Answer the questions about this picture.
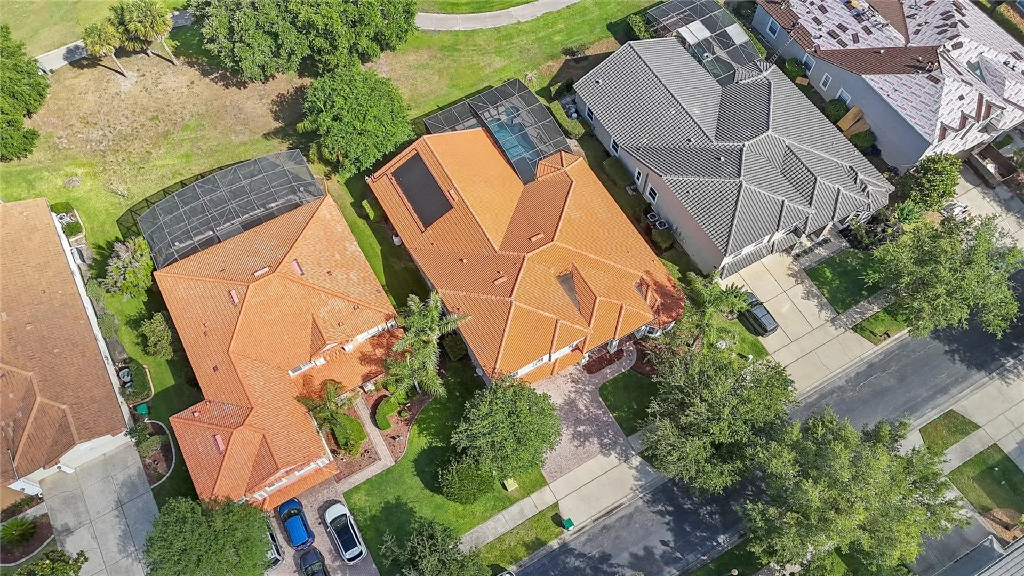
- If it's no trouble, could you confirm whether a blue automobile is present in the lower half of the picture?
Yes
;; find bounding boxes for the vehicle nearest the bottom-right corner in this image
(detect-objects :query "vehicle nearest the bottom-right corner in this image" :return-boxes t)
[734,292,780,340]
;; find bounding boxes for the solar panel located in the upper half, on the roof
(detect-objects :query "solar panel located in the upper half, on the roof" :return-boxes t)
[391,153,453,227]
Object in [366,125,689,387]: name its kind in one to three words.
house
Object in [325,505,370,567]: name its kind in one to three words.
car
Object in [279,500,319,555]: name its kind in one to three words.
car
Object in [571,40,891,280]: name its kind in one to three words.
house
